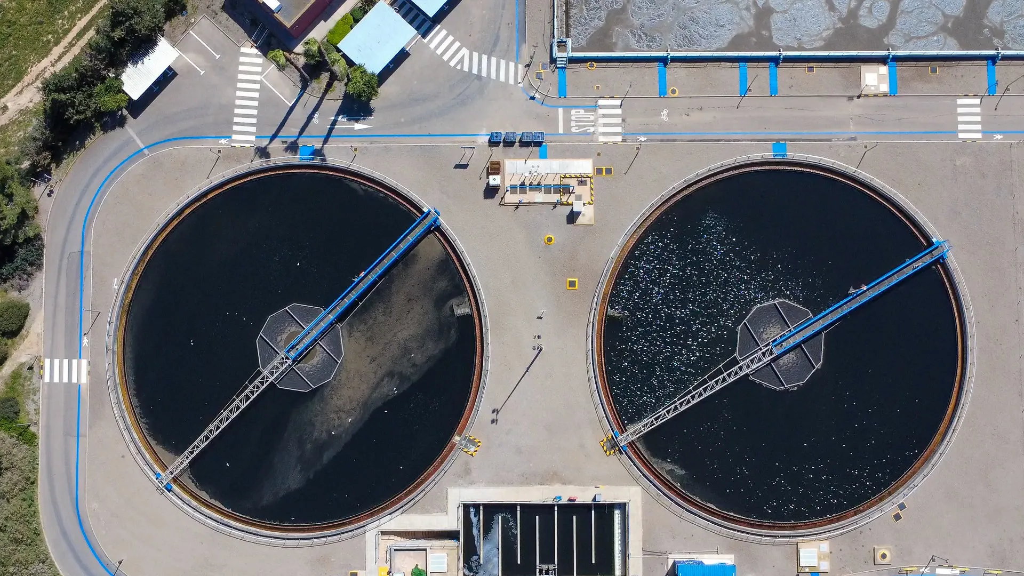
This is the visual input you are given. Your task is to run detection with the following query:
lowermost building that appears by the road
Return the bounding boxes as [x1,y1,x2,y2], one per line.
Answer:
[504,159,594,225]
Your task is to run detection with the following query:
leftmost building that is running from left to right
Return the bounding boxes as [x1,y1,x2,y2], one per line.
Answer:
[248,0,338,42]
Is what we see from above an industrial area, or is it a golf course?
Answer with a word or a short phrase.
industrial area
